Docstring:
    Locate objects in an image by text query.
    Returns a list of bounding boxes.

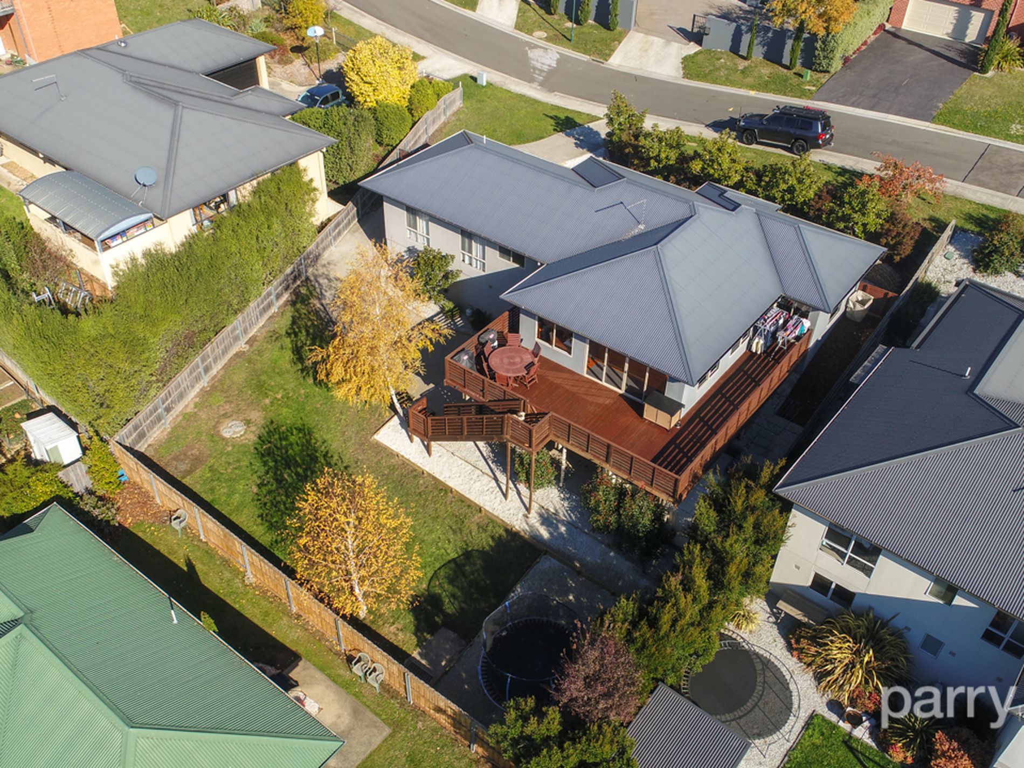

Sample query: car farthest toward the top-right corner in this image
[731,97,828,153]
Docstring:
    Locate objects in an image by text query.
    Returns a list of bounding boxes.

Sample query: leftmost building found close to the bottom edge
[0,501,348,768]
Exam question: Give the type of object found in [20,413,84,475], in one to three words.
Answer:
shed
